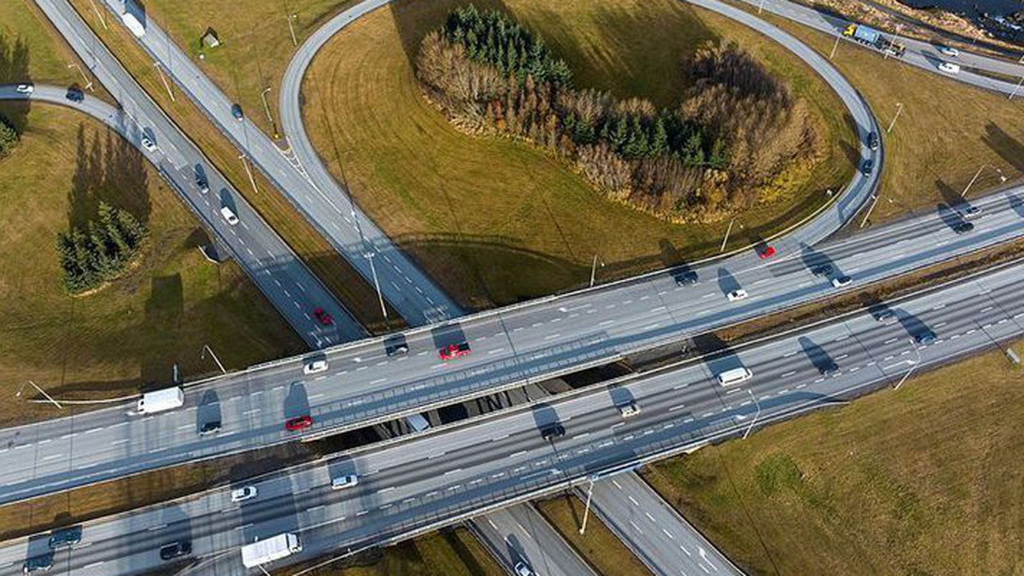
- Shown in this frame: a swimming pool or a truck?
truck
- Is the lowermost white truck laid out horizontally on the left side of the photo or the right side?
left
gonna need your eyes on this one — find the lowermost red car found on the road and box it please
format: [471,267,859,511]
[285,415,313,431]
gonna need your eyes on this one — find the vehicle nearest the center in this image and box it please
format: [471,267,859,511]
[441,343,469,359]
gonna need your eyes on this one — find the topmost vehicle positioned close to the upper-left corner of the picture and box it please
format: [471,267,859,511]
[122,13,145,36]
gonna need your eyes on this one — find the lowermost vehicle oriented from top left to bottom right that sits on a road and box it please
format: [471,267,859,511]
[509,553,534,576]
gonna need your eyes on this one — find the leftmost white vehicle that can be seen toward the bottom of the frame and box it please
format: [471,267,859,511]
[136,386,187,416]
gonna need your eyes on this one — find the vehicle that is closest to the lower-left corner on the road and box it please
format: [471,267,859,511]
[22,553,56,573]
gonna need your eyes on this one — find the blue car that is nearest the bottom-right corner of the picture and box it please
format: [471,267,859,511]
[913,331,936,344]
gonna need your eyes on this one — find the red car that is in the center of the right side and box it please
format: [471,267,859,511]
[756,246,776,260]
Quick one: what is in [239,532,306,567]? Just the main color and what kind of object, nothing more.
white truck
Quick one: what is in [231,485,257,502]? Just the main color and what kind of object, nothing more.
white car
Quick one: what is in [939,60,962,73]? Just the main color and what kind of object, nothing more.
white vehicle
